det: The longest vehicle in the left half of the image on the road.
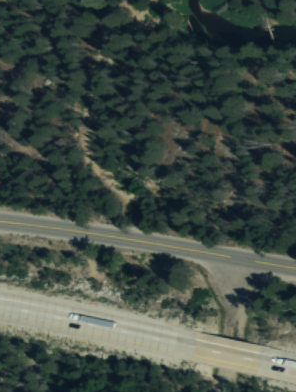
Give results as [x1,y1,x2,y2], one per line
[69,314,118,327]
